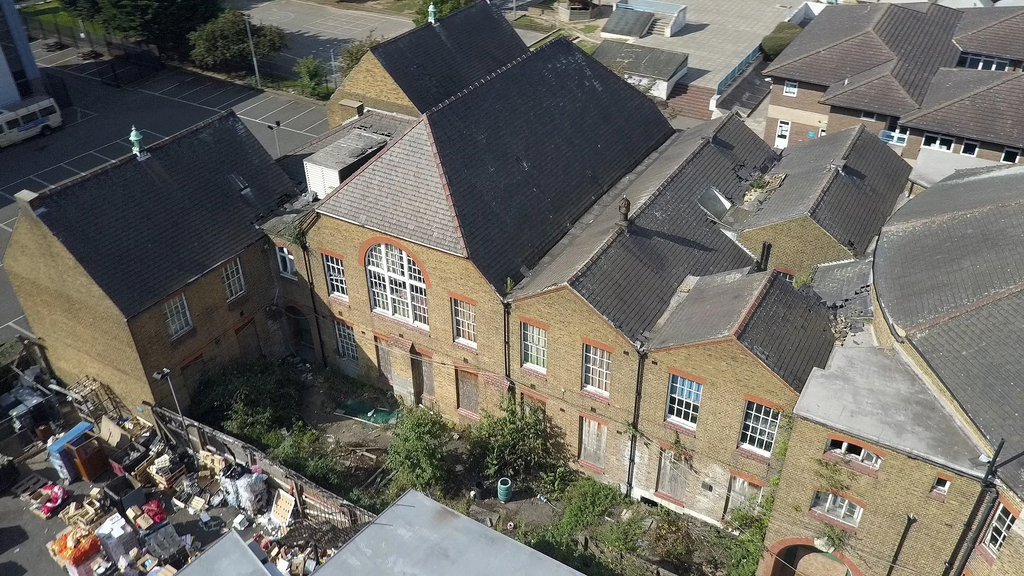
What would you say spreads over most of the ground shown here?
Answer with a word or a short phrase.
buildings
